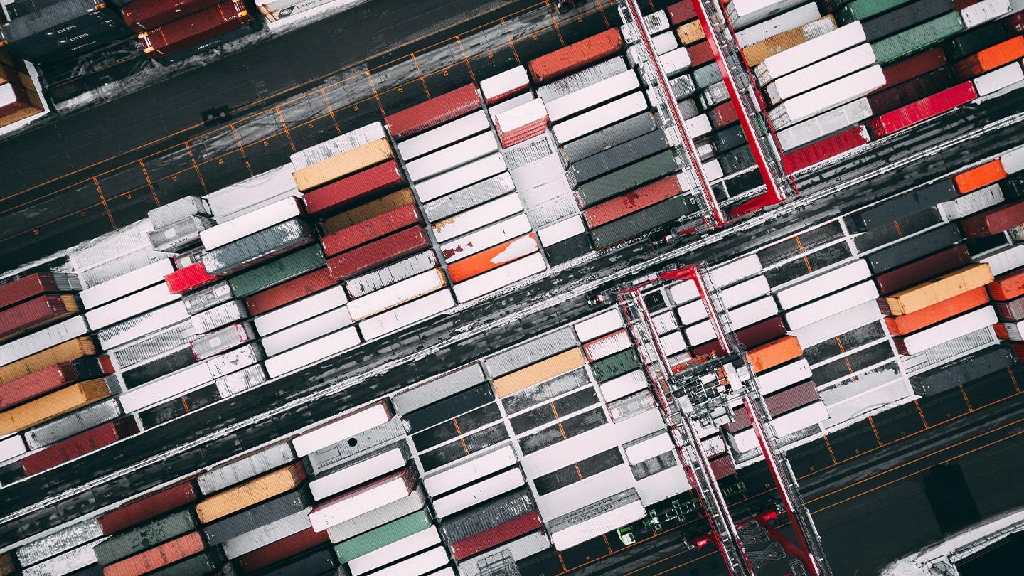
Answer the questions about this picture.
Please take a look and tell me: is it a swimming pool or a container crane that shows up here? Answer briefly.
container crane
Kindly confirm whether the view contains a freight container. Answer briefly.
Yes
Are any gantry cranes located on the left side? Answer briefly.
No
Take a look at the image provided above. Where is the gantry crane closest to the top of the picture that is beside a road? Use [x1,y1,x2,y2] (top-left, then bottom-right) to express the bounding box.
[554,0,804,252]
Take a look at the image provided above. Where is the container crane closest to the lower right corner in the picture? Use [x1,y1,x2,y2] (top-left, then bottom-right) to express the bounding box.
[582,255,846,576]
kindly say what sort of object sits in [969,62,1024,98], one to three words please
shipping container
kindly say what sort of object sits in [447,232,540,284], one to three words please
shipping container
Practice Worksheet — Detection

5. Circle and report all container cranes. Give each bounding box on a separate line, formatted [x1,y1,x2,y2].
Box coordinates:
[554,0,804,252]
[582,255,846,576]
